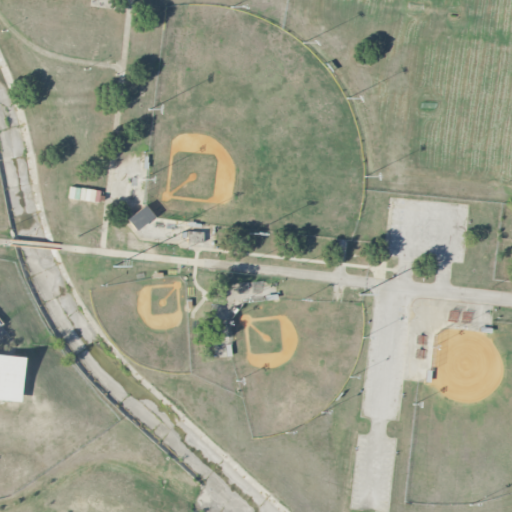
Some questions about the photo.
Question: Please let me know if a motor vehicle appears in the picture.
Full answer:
No, the photo shows no motor vehicle.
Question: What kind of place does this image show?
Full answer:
This image shows a sports ground.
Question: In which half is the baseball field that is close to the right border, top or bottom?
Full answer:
You can find the baseball field that is close to the right border in the bottom half.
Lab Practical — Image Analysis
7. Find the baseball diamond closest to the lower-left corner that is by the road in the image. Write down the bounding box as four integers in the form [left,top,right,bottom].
[90,276,190,374]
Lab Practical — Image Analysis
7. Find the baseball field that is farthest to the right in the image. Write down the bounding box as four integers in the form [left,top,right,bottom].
[407,329,512,504]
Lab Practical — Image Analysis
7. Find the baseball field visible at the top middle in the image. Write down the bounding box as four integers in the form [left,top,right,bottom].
[152,4,366,237]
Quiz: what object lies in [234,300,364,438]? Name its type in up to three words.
baseball field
